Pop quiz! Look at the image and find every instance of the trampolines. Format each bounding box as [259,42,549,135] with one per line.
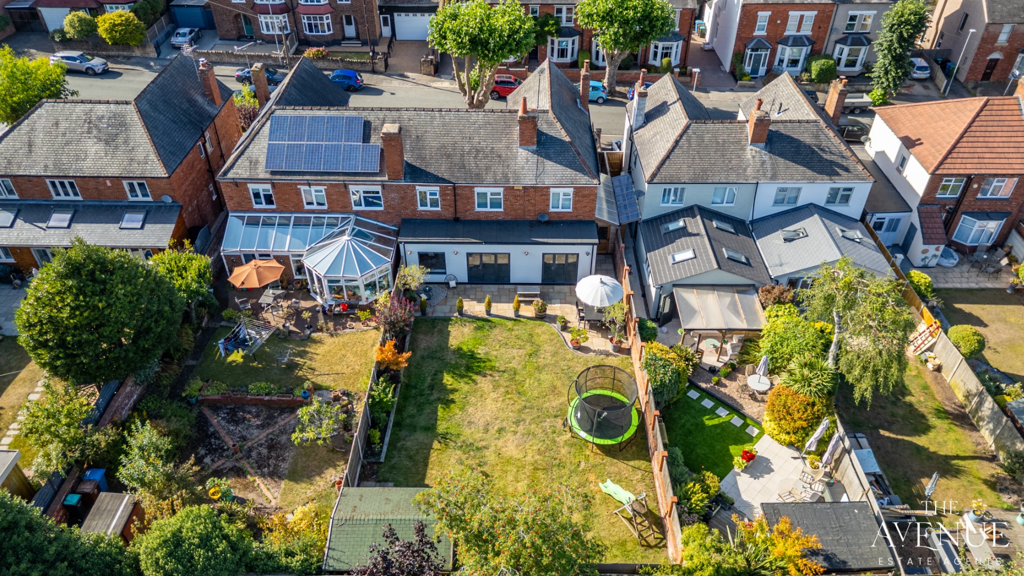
[567,363,644,451]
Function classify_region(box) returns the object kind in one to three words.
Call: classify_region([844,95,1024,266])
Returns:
house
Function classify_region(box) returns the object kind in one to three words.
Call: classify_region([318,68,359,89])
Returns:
car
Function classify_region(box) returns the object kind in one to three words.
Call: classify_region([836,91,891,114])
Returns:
trailer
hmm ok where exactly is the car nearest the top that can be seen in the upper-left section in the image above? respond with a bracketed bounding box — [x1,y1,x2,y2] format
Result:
[170,29,211,46]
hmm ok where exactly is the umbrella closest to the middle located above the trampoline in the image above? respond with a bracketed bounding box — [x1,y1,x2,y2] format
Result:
[574,278,622,312]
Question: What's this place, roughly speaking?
residential area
